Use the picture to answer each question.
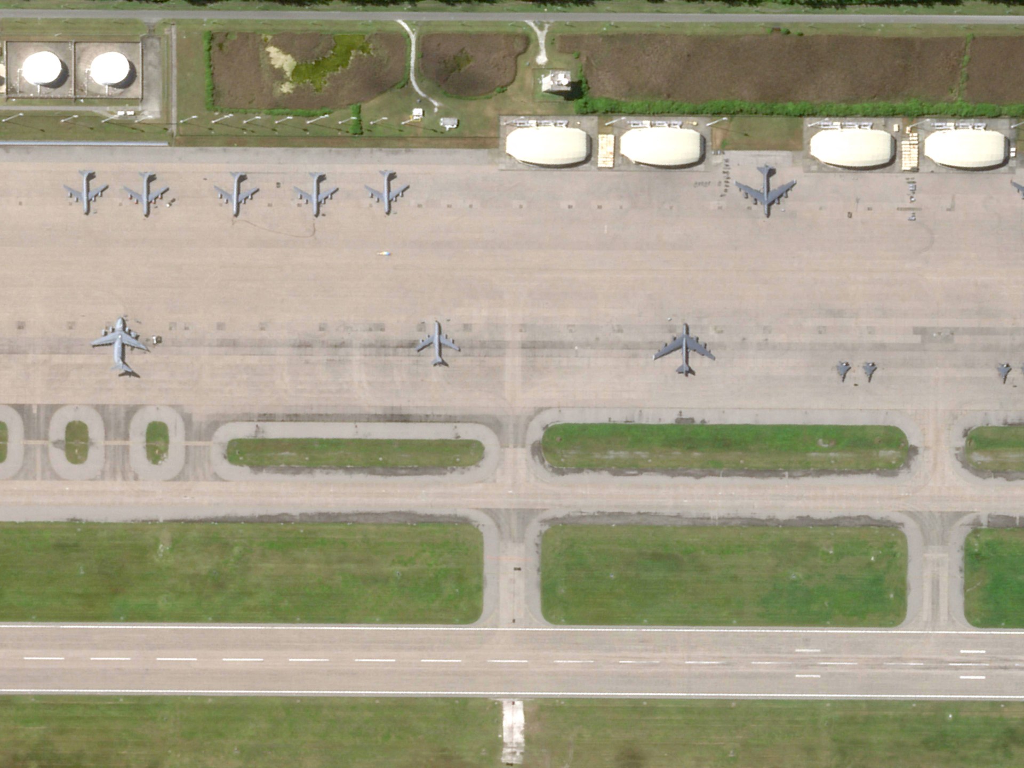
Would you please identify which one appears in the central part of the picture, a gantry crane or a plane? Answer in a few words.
plane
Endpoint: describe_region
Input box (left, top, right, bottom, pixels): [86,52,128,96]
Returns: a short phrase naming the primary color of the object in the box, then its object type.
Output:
white storage tank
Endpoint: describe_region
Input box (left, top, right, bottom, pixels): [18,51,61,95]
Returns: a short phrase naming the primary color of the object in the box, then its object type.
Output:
white storage tank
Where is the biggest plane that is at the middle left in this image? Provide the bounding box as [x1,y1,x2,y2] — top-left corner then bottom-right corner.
[91,317,148,373]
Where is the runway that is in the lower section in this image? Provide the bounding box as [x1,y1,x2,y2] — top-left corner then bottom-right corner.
[0,622,1024,701]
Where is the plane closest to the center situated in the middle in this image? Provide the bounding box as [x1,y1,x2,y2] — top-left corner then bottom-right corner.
[416,321,460,365]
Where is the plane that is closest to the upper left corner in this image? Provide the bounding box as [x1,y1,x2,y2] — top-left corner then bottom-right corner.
[64,168,109,214]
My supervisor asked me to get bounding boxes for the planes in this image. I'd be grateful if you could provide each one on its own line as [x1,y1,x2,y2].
[863,360,877,380]
[64,168,109,214]
[416,321,460,365]
[998,361,1012,380]
[365,169,409,215]
[124,170,169,216]
[91,317,148,373]
[214,170,258,217]
[294,171,338,216]
[736,164,797,215]
[654,323,716,373]
[837,360,851,380]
